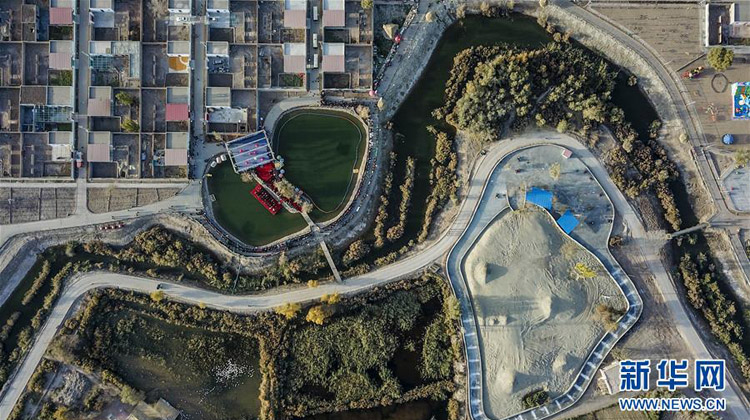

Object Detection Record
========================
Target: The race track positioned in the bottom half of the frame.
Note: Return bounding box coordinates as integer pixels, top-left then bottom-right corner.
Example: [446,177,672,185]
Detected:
[448,162,639,420]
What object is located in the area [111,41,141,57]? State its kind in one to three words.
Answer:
shed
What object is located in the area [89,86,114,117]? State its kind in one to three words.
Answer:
house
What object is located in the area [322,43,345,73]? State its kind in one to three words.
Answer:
house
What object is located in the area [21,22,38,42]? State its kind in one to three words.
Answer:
shed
